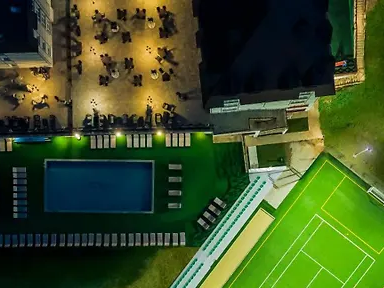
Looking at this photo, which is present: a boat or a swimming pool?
swimming pool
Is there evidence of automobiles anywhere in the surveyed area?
No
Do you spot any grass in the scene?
Yes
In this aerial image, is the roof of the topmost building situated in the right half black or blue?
black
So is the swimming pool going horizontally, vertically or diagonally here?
horizontally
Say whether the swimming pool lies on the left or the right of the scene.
left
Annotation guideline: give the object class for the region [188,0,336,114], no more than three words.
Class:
building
